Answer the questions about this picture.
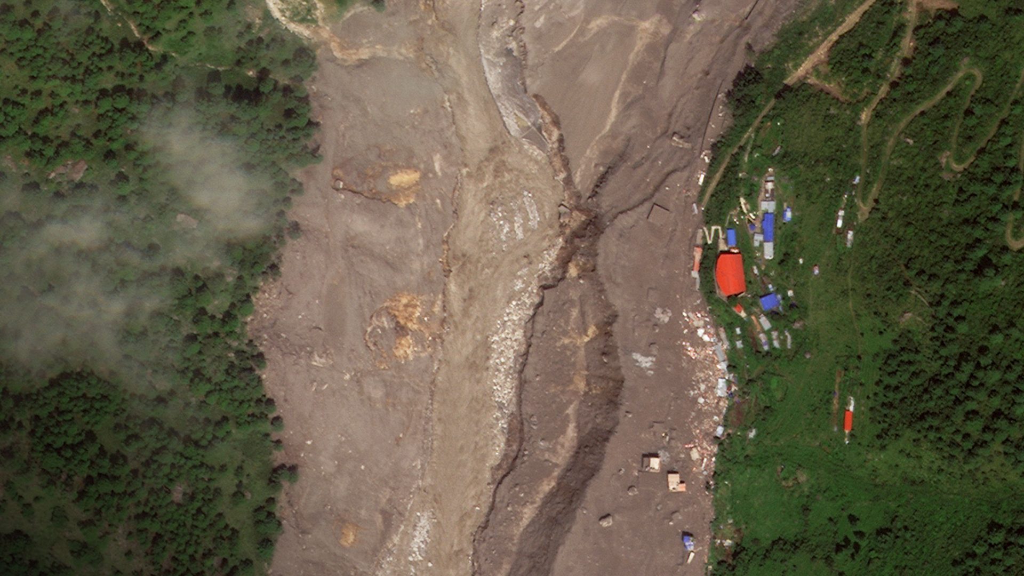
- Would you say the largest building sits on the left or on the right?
right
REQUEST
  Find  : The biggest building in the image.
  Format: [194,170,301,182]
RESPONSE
[716,254,746,296]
